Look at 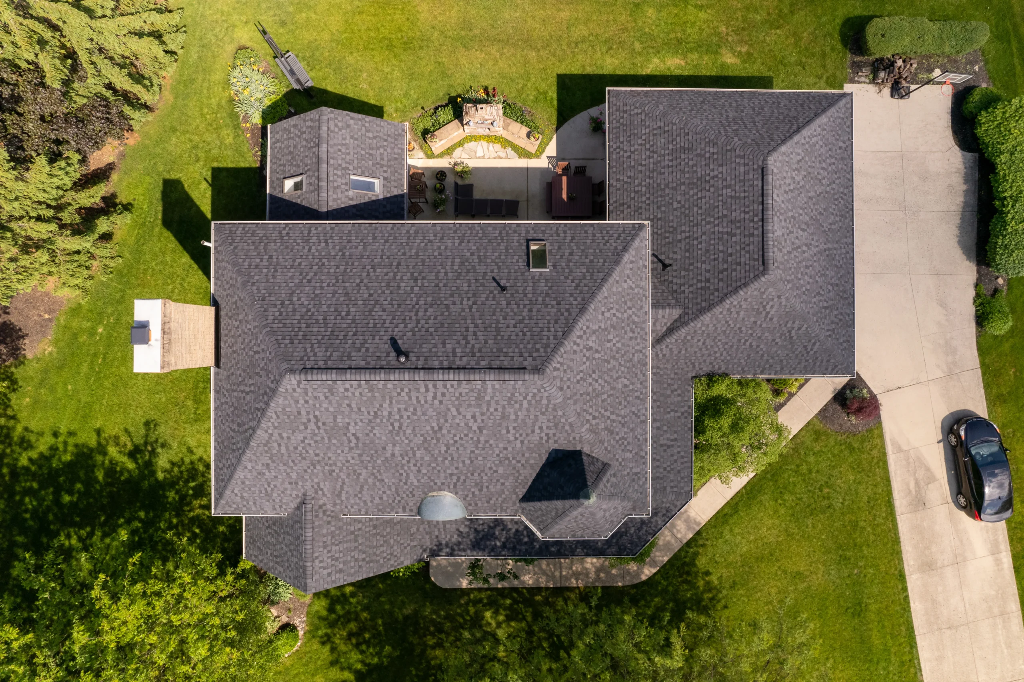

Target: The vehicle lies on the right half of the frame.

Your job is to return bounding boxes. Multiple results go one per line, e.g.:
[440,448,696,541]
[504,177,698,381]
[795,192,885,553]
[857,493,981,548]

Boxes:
[949,412,1014,526]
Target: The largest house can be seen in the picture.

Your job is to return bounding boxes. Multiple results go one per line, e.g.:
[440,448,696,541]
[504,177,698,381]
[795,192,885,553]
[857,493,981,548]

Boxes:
[129,91,854,595]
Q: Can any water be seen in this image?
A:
No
